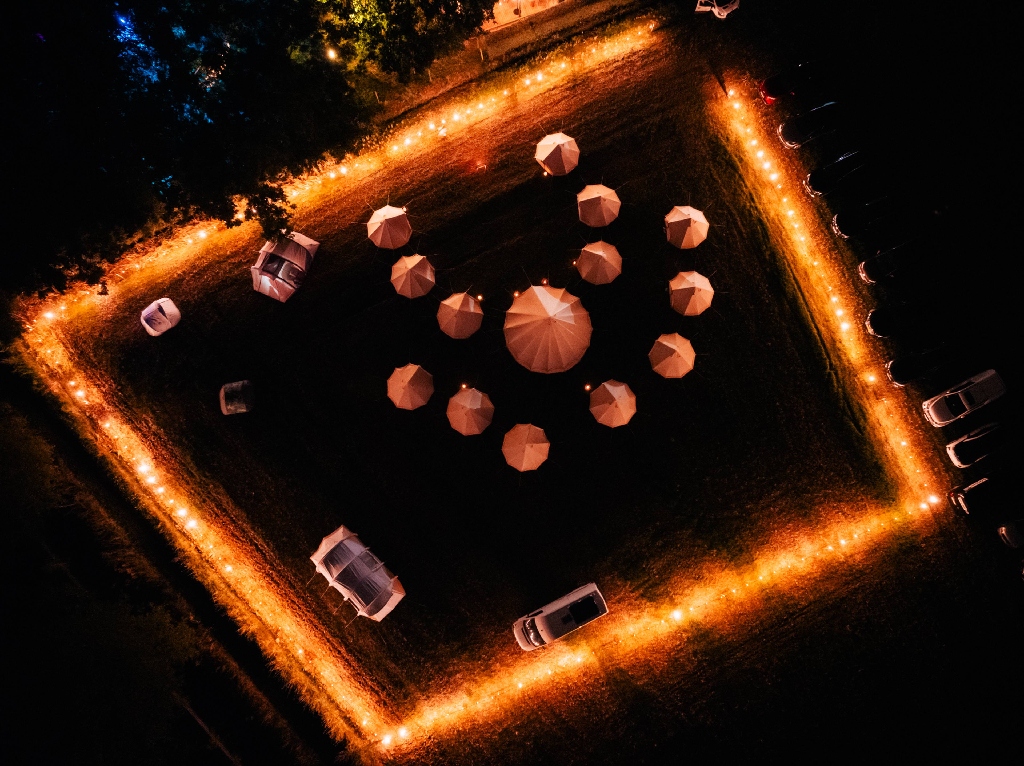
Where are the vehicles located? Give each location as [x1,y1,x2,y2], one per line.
[800,147,872,198]
[945,421,1020,469]
[756,62,818,107]
[697,0,742,20]
[772,100,842,148]
[995,511,1024,550]
[921,372,1006,427]
[853,235,926,285]
[882,336,951,384]
[513,584,612,652]
[862,289,927,336]
[942,463,1020,516]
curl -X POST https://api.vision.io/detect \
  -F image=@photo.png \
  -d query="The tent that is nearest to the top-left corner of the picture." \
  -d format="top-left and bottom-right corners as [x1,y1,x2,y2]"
[137,298,182,338]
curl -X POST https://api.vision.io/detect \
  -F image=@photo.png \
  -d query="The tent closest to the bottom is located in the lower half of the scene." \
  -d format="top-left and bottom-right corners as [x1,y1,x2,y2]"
[306,523,405,626]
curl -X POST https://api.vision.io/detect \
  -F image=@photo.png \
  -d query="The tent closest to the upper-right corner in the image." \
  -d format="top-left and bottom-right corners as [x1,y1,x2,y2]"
[666,202,722,257]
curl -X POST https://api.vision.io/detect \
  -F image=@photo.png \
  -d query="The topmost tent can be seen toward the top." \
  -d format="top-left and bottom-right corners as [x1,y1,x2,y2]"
[527,124,584,185]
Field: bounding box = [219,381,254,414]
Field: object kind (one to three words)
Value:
tent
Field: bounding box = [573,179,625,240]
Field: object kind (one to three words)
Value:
tent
